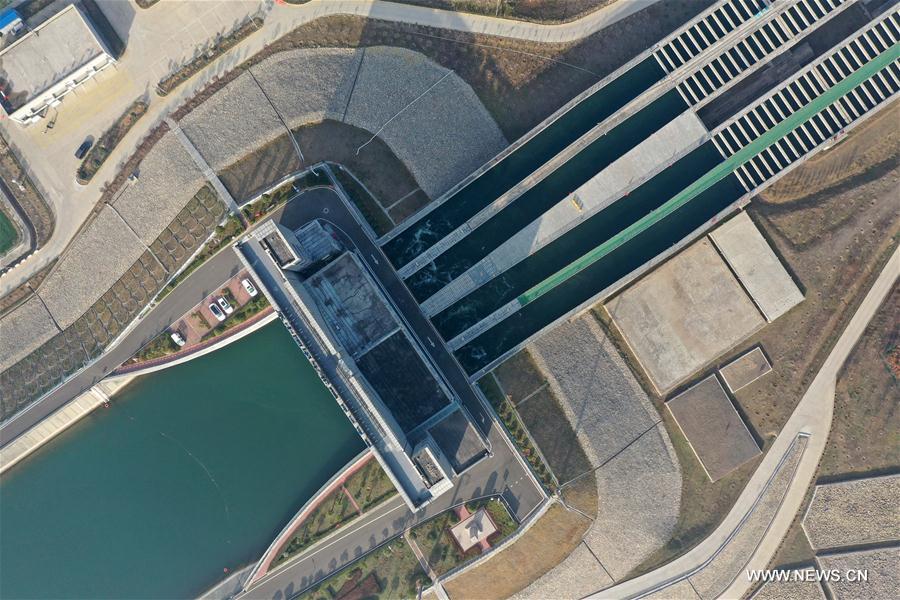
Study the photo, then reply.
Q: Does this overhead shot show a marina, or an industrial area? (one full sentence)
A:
The picture captures an industrial area.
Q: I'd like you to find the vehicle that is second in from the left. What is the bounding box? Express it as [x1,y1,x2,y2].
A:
[171,330,186,348]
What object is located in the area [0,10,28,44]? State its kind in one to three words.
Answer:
shed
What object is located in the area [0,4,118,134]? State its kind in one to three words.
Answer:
building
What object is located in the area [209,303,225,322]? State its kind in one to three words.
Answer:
car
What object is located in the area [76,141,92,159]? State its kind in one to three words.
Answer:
car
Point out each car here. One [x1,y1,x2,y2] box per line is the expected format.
[209,303,225,322]
[218,296,234,314]
[242,278,258,297]
[76,141,92,159]
[171,330,186,348]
